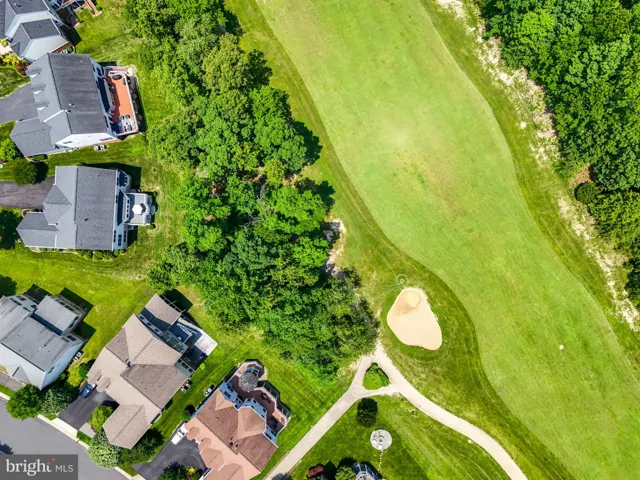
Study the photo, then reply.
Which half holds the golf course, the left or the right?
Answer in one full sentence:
It is on the right.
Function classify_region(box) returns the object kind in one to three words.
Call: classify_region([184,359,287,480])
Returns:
house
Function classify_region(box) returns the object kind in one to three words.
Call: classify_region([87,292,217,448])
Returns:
house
